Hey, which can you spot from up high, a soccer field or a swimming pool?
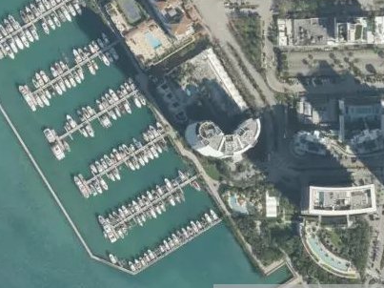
swimming pool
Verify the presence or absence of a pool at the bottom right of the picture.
Yes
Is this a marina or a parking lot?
marina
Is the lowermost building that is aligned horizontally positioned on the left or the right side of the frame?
right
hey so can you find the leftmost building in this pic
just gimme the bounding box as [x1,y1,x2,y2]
[107,0,144,32]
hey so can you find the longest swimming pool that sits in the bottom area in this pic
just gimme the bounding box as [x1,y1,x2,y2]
[306,232,352,273]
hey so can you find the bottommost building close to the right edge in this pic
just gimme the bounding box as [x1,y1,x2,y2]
[303,183,377,218]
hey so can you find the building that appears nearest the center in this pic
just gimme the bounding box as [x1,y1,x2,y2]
[185,121,224,154]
